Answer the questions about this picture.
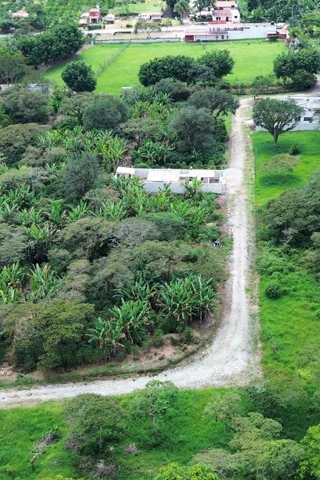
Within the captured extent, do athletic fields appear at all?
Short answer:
Yes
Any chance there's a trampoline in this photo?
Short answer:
No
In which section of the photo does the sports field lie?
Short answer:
top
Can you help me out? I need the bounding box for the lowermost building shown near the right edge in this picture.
[266,93,320,122]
